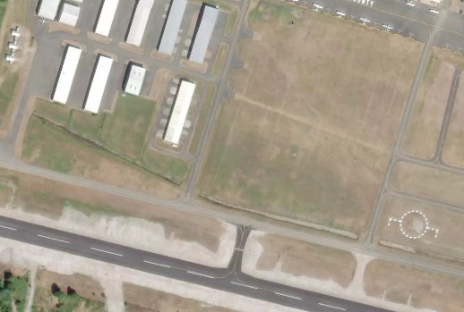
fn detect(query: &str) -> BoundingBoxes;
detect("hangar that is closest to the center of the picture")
[164,82,195,143]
